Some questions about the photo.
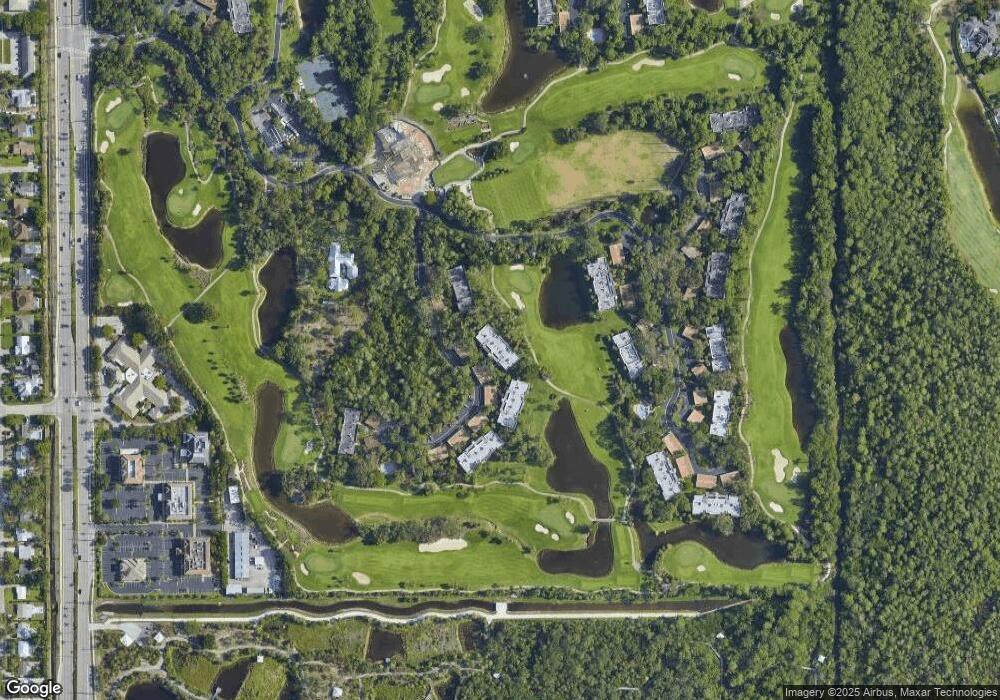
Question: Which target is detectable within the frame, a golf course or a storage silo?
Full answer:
The one in the frame is a golf course.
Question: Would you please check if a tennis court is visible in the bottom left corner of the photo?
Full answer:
No, in the bottom left corner of the photo there is no tennis court.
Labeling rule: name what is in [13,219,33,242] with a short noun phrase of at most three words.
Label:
house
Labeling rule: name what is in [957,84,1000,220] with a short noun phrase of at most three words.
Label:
pond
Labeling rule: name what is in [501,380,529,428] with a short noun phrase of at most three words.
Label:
building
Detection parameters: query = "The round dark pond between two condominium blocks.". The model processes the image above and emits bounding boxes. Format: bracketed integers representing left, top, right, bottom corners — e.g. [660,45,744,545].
[540,252,594,329]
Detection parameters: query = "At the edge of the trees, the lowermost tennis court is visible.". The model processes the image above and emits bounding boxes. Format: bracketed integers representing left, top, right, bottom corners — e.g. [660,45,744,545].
[316,86,351,125]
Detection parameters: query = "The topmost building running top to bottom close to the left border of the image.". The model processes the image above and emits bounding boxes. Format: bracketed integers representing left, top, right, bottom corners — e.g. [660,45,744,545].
[20,37,35,76]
